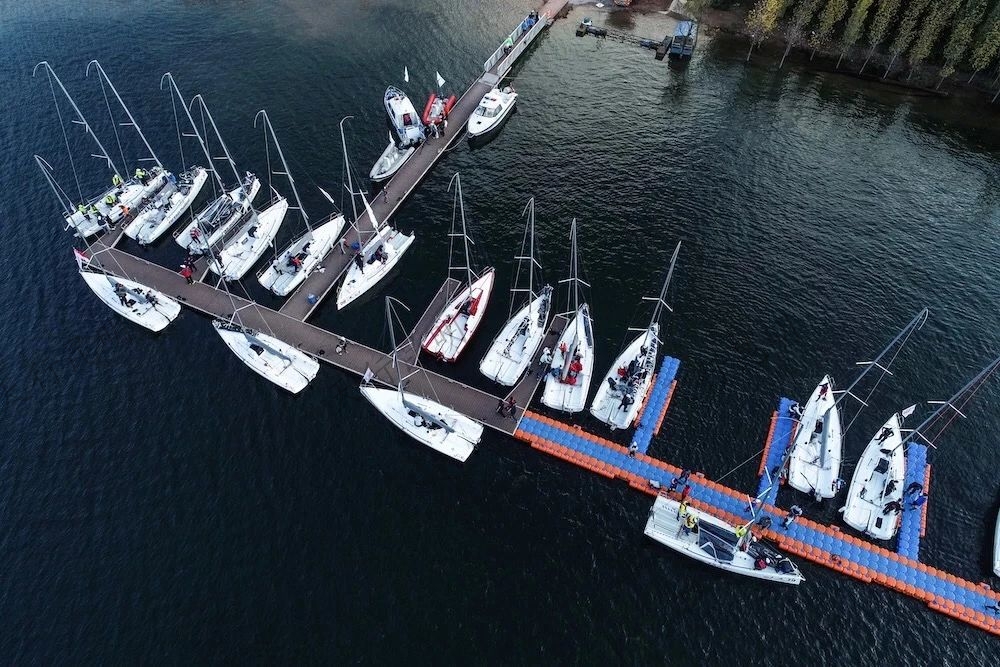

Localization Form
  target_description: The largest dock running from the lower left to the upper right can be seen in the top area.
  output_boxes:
[278,76,501,321]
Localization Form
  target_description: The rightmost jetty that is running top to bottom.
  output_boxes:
[895,448,930,562]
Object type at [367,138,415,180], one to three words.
boat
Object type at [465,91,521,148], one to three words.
boat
